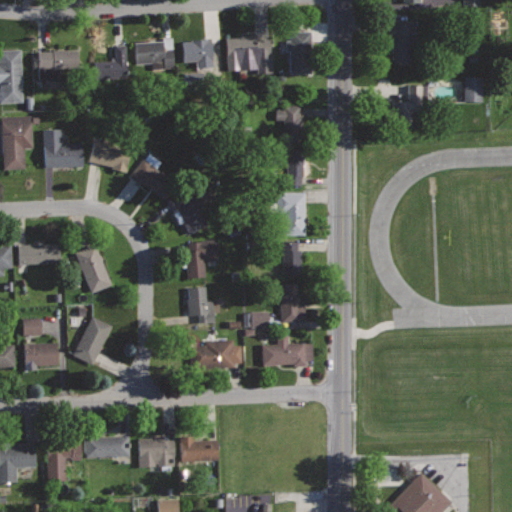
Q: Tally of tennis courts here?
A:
0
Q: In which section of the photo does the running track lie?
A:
right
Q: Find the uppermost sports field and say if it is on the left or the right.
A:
right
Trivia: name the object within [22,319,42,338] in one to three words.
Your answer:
building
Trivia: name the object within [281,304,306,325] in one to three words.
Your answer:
house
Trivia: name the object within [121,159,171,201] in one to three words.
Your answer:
house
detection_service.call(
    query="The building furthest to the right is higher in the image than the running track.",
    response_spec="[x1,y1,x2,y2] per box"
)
[464,76,484,102]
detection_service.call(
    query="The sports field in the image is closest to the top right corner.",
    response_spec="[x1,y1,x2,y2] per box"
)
[390,168,512,304]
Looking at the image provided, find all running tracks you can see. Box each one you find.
[369,146,512,330]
